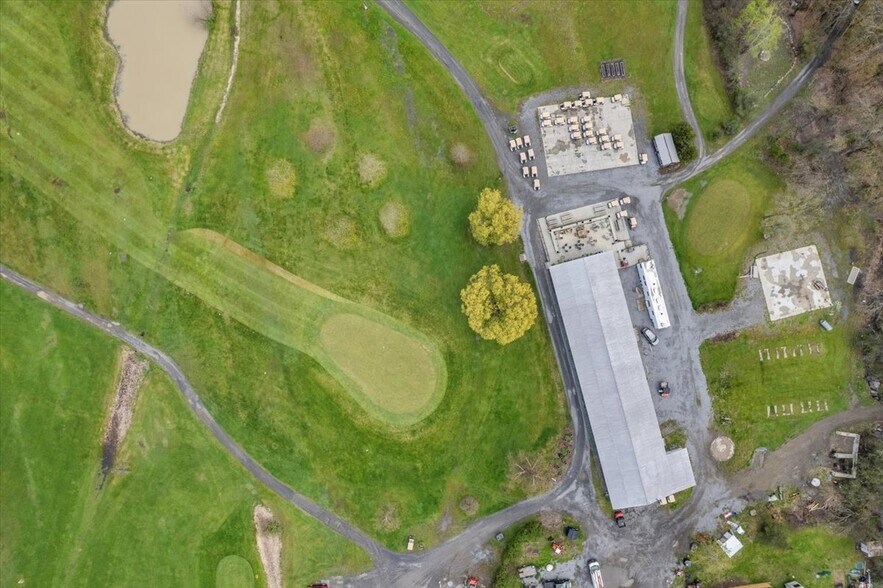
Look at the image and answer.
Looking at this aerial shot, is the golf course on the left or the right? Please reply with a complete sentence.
The golf course sits on the left side.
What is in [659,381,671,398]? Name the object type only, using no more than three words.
vehicle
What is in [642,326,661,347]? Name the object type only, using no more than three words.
car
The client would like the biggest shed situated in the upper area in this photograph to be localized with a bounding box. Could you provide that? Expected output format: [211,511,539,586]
[652,133,679,167]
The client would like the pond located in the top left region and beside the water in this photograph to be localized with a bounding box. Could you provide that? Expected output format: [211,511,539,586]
[108,0,212,142]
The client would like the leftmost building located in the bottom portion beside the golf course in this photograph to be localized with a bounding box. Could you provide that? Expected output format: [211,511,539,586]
[548,250,696,509]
